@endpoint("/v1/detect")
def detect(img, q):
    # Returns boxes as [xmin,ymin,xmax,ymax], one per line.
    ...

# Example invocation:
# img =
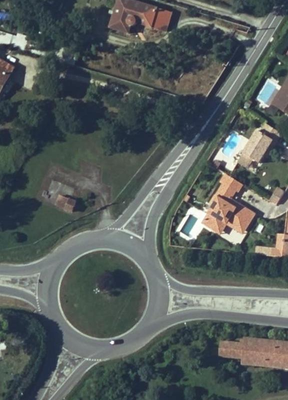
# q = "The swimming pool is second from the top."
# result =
[213,132,248,171]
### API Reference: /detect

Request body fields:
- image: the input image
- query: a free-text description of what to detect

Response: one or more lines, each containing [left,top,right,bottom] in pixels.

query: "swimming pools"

[256,78,279,108]
[176,207,206,240]
[213,132,248,171]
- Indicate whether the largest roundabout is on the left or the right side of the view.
left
